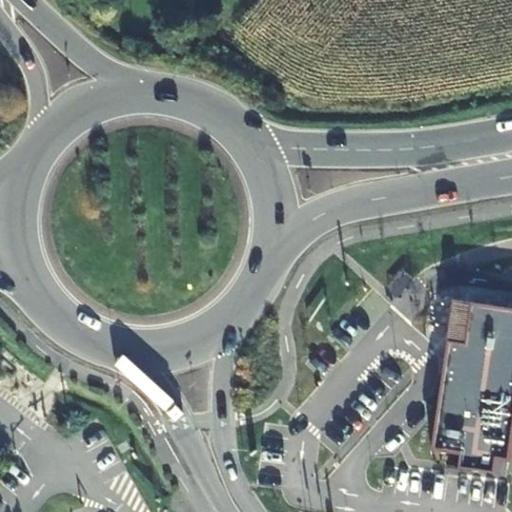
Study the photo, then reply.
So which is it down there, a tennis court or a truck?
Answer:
truck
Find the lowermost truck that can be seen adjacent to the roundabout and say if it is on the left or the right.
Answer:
left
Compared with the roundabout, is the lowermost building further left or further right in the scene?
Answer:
to its right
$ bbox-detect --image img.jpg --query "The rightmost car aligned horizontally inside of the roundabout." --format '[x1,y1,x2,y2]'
[154,89,178,101]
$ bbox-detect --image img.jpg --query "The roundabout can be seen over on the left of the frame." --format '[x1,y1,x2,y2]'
[0,72,291,368]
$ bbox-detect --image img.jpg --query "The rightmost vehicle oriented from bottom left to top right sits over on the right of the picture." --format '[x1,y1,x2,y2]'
[408,407,426,430]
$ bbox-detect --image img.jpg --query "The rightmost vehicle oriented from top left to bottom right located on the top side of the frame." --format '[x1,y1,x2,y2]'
[244,112,265,129]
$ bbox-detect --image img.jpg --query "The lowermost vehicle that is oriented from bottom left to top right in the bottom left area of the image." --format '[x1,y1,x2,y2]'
[96,452,116,470]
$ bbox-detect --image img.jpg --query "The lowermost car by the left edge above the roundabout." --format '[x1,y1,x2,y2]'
[19,47,34,68]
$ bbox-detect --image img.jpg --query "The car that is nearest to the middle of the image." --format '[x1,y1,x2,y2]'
[248,250,261,274]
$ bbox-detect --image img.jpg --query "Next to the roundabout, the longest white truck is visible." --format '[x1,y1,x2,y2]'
[114,356,184,421]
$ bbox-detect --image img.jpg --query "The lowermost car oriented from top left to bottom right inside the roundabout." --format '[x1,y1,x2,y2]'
[78,312,101,330]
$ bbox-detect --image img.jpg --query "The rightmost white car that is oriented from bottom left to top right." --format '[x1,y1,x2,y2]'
[384,434,406,452]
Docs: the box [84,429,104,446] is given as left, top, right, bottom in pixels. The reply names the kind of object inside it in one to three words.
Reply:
car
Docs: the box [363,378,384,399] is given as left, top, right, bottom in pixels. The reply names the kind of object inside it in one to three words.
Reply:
car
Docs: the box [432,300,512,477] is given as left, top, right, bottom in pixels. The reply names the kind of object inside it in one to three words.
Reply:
building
